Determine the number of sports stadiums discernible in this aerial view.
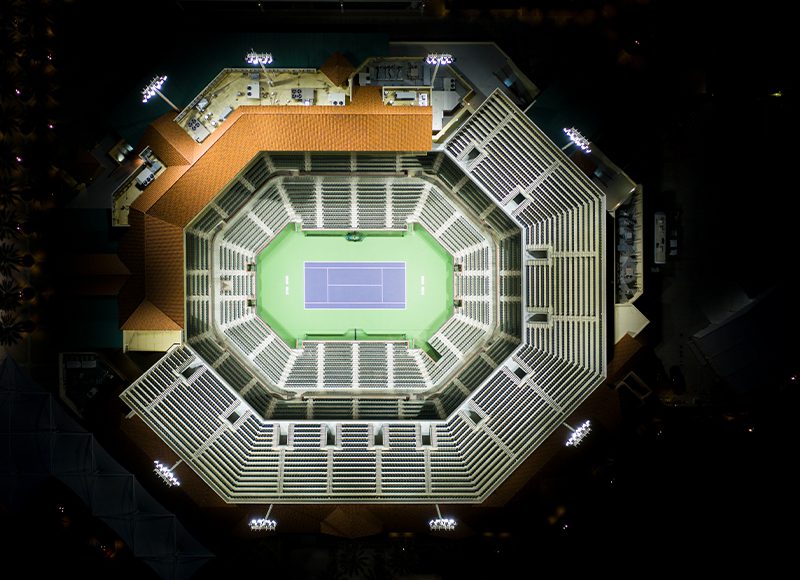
1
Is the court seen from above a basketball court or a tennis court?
tennis court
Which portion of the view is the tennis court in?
center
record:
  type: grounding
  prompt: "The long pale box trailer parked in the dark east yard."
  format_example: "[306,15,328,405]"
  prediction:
[648,208,666,264]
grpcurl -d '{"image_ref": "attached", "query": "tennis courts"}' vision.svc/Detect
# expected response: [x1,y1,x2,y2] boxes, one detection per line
[255,218,455,360]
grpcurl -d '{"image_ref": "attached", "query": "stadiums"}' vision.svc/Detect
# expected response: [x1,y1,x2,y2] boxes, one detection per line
[116,85,607,503]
